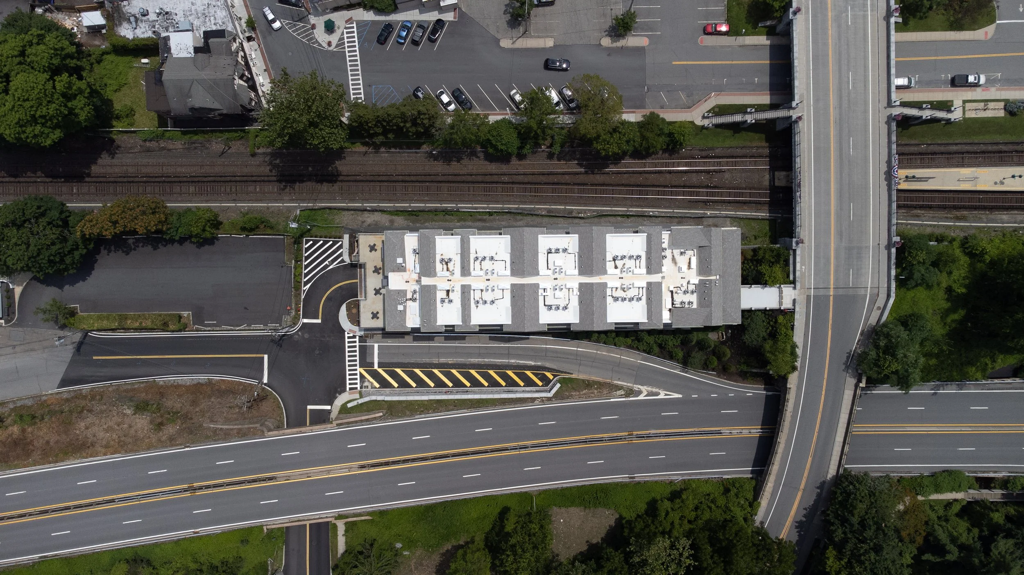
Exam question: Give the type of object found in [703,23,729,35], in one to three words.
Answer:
vehicle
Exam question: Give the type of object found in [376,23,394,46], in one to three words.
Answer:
car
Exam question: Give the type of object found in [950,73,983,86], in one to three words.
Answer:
vehicle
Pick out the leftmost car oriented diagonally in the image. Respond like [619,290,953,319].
[262,6,282,30]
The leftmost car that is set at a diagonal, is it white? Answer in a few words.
Yes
